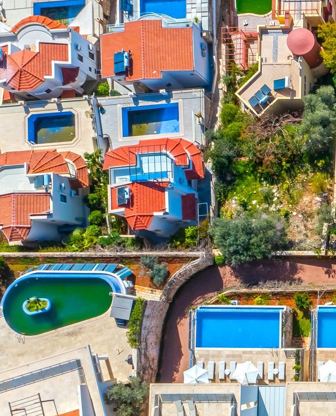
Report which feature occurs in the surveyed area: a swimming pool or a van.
swimming pool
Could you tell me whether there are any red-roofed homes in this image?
Yes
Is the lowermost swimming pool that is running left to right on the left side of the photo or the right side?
right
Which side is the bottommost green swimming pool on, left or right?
left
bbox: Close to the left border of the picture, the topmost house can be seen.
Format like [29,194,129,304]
[0,14,95,101]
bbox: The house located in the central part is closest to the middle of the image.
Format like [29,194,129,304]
[102,137,206,234]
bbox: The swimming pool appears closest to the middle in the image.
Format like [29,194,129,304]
[115,97,185,143]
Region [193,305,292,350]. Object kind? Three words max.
swimming pool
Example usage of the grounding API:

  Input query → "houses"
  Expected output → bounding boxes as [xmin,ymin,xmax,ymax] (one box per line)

[0,345,128,416]
[0,150,90,246]
[102,137,206,234]
[0,14,95,101]
[286,378,336,416]
[100,11,211,93]
[235,0,336,123]
[150,379,259,416]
